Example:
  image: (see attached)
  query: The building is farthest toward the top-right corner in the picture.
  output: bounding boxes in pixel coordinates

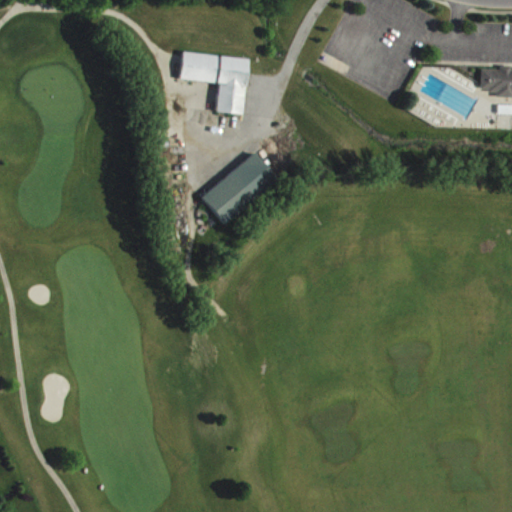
[481,68,512,96]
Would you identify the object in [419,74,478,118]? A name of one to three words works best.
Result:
swimming pool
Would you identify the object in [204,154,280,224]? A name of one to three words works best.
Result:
barn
